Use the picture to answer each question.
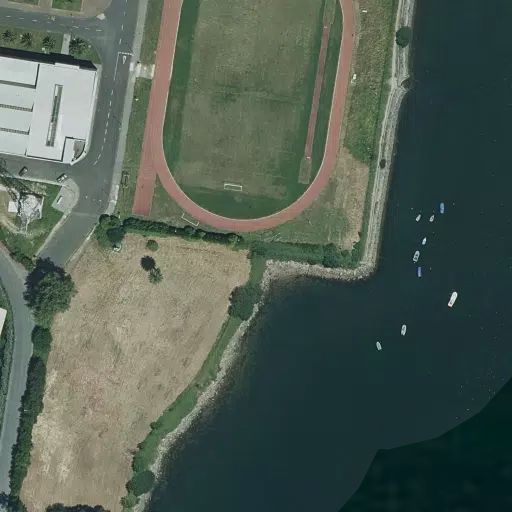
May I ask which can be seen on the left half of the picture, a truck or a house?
house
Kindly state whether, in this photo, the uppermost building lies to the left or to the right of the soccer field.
on its left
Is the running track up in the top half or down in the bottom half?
top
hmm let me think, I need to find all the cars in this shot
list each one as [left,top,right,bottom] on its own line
[57,174,67,182]
[20,166,28,176]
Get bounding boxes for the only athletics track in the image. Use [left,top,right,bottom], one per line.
[132,0,353,232]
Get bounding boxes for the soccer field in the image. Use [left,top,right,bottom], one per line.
[162,0,342,219]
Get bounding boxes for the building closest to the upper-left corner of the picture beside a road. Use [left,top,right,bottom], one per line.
[0,56,98,165]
